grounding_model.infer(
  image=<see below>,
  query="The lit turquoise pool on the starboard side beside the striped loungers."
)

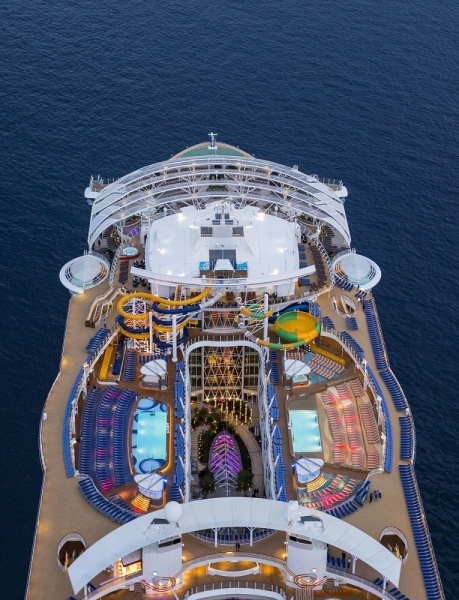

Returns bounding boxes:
[282,390,327,460]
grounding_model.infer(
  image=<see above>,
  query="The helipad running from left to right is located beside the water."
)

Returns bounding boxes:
[158,145,261,172]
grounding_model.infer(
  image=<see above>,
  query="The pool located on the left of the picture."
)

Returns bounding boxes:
[128,395,173,474]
